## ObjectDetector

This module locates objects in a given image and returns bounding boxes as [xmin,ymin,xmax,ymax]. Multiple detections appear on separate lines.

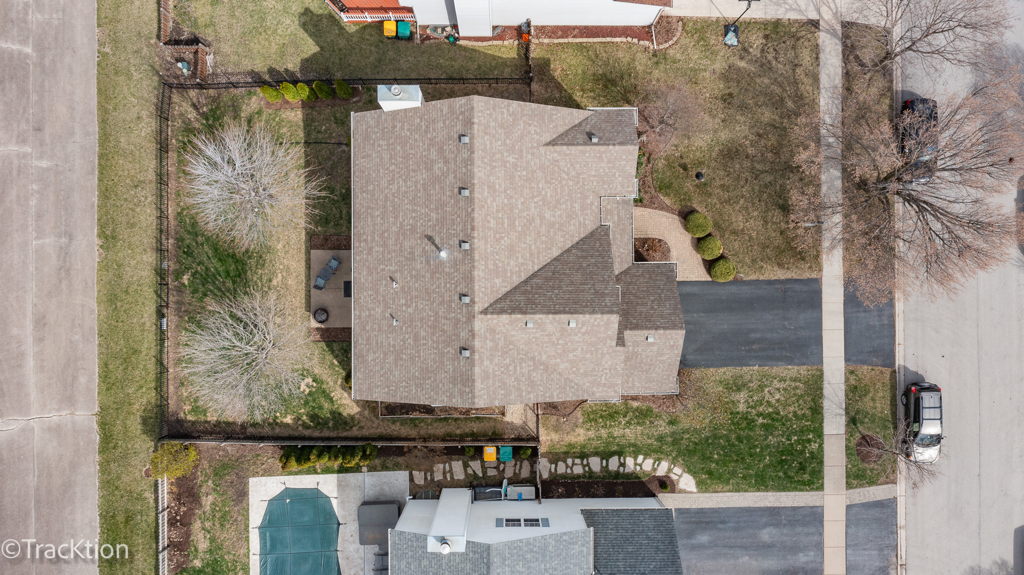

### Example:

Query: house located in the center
[349,84,686,408]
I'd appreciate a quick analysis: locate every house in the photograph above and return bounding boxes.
[349,84,686,408]
[398,0,673,46]
[386,488,683,575]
